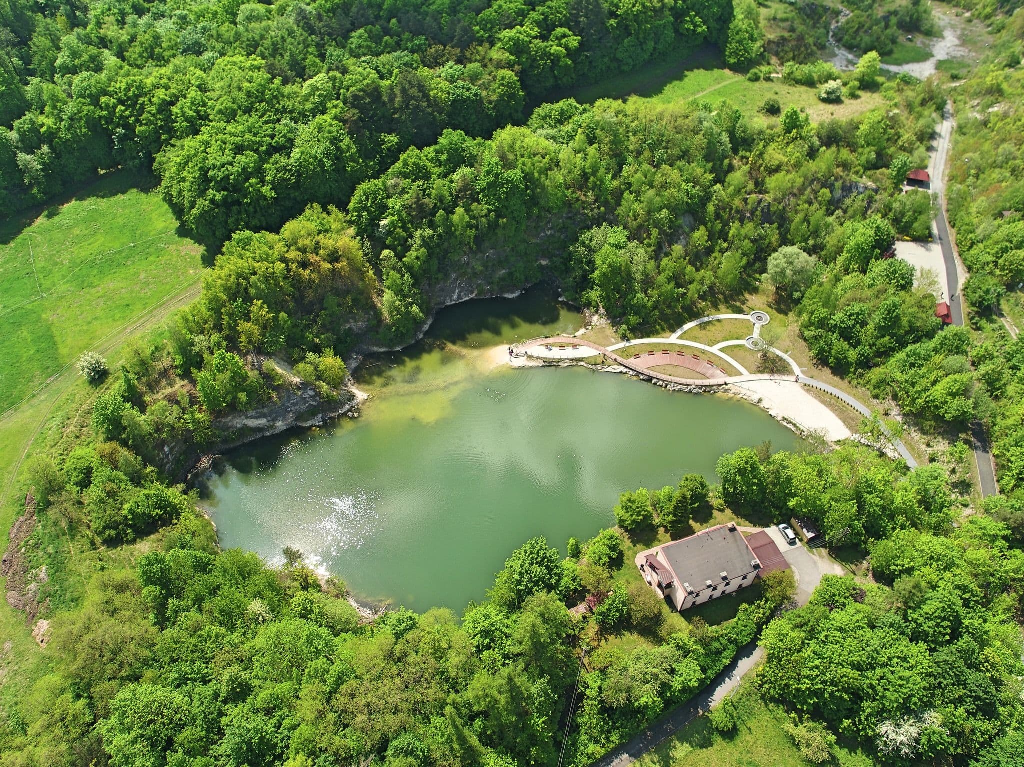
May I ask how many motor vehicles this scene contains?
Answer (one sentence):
My tally gives 1 motor vehicle in this photo.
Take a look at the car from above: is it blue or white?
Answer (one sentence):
The car is white.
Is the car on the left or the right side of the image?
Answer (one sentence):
The car is on the right side of the image.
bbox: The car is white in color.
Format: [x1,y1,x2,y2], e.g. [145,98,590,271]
[777,524,799,546]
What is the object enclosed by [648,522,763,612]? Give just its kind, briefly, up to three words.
house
